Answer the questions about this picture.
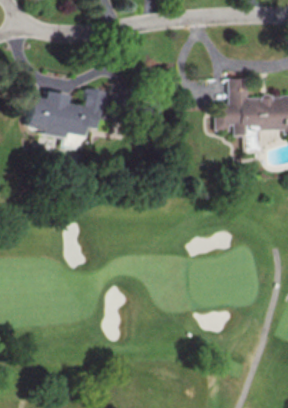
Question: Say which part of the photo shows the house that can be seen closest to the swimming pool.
top right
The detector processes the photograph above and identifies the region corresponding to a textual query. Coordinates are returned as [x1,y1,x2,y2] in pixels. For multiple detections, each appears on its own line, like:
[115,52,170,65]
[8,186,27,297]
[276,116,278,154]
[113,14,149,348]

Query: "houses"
[213,78,288,138]
[28,88,106,149]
